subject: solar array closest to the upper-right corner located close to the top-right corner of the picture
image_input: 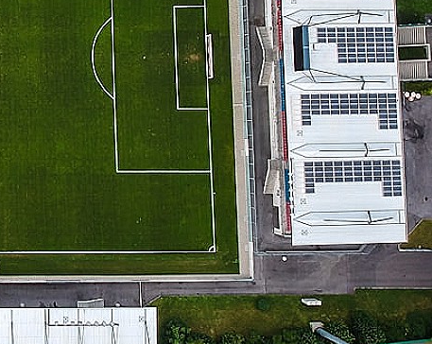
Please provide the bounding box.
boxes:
[317,27,392,62]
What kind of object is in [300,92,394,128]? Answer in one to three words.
solar array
